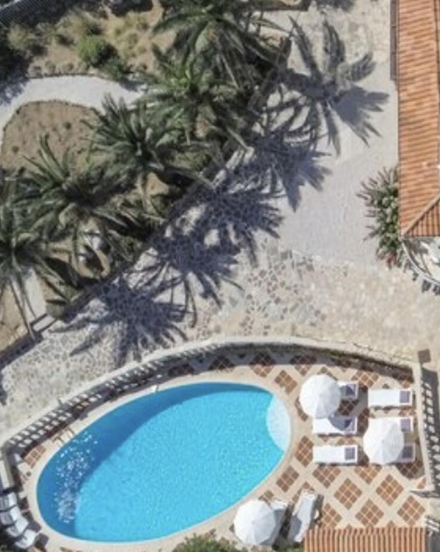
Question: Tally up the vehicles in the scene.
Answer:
0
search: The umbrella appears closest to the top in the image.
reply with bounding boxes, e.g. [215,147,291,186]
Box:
[300,376,342,417]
